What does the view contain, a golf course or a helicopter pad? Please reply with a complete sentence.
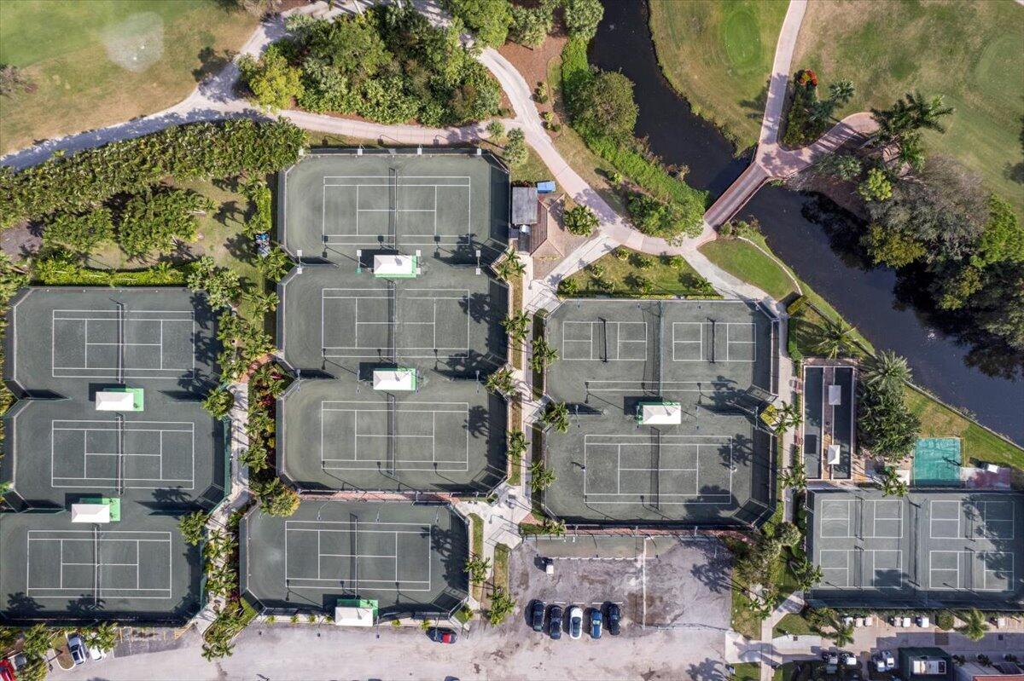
This aerial view contains a golf course.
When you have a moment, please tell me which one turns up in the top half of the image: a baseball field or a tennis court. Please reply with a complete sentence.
It is a tennis court that can be seen in the top half of the image.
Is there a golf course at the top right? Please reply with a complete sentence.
Yes, a golf course appears at the top right.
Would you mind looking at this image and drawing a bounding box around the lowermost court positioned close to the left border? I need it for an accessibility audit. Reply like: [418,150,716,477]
[2,509,207,619]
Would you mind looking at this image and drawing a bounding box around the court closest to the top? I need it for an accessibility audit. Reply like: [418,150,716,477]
[286,155,507,265]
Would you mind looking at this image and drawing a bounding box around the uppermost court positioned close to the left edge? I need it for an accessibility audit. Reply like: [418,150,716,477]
[16,289,225,399]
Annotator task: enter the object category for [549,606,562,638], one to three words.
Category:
vehicle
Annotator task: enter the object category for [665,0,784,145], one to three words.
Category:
golf course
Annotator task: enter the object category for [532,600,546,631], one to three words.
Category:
car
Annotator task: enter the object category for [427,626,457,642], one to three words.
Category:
car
